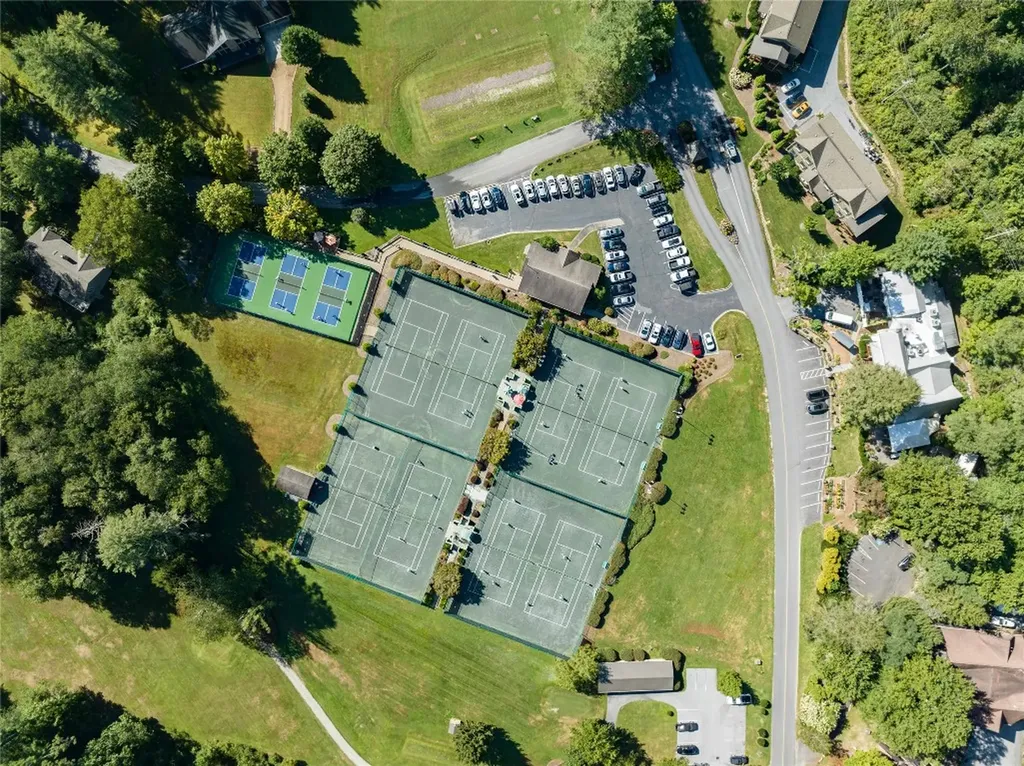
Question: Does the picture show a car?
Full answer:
Yes, looking at the shot, I can spot a car.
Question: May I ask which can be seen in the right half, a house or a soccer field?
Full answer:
The feature located in the right half is a house.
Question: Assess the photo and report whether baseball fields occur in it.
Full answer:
No, there isn't any baseball field down there.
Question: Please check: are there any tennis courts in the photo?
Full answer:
Yes, there's a tennis court down there.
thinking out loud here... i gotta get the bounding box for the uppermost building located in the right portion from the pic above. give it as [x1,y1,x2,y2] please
[740,0,825,81]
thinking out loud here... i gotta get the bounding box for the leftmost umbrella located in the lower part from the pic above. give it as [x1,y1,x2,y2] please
[459,527,473,540]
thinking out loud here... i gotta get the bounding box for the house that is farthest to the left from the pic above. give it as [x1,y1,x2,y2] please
[20,225,113,299]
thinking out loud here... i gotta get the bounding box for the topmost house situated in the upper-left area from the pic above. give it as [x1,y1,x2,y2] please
[158,0,307,78]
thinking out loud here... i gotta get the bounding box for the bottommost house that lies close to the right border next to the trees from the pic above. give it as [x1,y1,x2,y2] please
[929,626,1024,721]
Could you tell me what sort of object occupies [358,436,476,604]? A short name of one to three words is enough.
tennis court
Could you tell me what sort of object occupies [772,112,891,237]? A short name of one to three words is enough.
building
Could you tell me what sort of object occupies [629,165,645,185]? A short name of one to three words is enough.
car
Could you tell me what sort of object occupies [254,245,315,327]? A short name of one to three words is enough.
sports court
